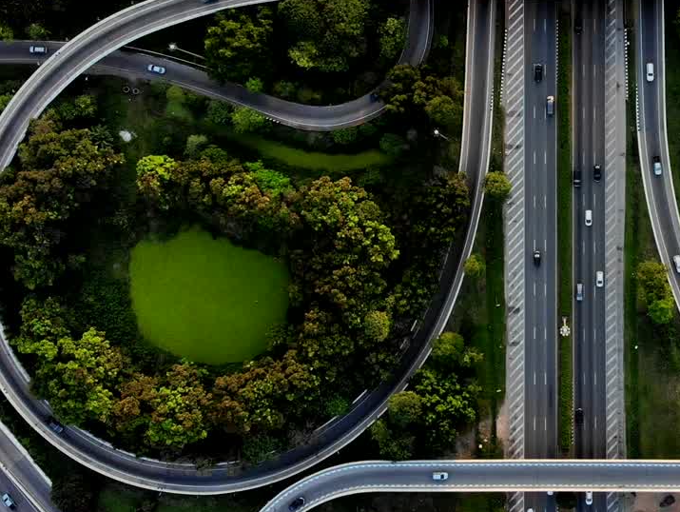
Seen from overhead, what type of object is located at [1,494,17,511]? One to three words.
vehicle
